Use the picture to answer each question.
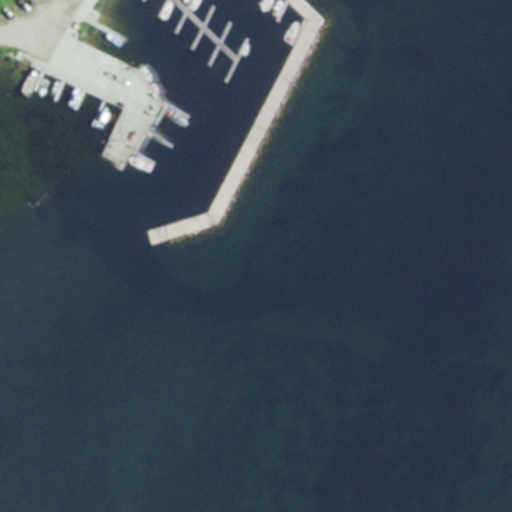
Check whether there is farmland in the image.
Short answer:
No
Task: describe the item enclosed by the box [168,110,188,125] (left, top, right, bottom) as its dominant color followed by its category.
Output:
white boat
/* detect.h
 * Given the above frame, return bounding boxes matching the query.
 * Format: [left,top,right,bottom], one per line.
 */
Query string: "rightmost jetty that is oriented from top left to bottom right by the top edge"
[158,0,250,83]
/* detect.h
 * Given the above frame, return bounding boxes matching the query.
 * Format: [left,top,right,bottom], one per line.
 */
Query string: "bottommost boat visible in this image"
[129,155,157,174]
